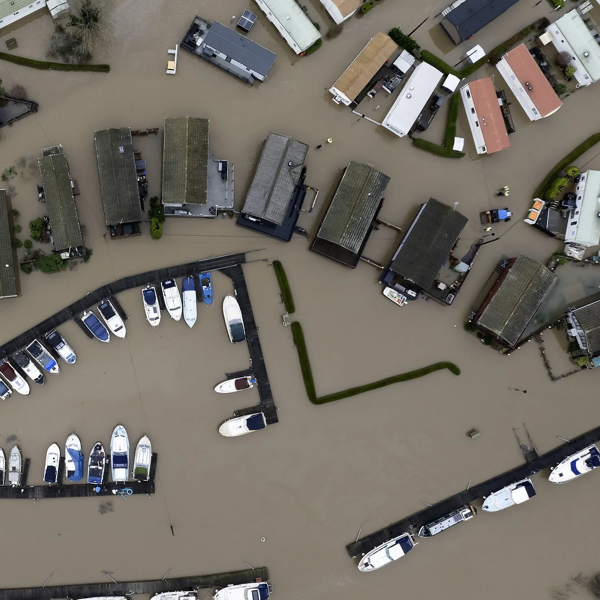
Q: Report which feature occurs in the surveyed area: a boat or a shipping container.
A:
boat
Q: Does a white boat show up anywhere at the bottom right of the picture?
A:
Yes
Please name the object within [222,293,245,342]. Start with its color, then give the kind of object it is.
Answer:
white boat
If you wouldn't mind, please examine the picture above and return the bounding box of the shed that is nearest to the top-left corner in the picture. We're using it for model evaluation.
[44,0,69,23]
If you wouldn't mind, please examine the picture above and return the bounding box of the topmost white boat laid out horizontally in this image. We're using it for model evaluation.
[215,374,255,392]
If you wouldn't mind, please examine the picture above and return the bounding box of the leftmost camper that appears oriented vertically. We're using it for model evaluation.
[463,77,510,156]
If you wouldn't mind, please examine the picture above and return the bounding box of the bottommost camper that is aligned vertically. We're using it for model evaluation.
[566,170,600,244]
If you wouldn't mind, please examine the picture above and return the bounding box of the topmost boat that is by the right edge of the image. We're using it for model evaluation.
[549,448,600,483]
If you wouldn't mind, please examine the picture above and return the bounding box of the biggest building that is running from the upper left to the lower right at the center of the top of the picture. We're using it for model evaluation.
[203,20,277,81]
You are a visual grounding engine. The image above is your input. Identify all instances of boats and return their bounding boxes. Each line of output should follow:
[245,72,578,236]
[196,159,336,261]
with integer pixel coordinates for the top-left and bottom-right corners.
[359,530,419,570]
[0,359,28,394]
[415,505,477,537]
[0,448,6,485]
[294,227,307,235]
[151,590,197,600]
[143,285,160,326]
[98,298,125,338]
[211,580,274,600]
[199,273,214,305]
[27,340,59,374]
[65,433,84,485]
[43,443,60,486]
[7,446,23,488]
[82,310,109,342]
[133,435,152,484]
[15,350,45,384]
[88,443,105,484]
[384,287,408,306]
[222,293,245,342]
[181,279,196,328]
[162,279,183,320]
[111,425,129,485]
[0,374,13,398]
[45,330,74,363]
[215,374,255,392]
[481,478,535,511]
[219,410,269,435]
[549,448,600,483]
